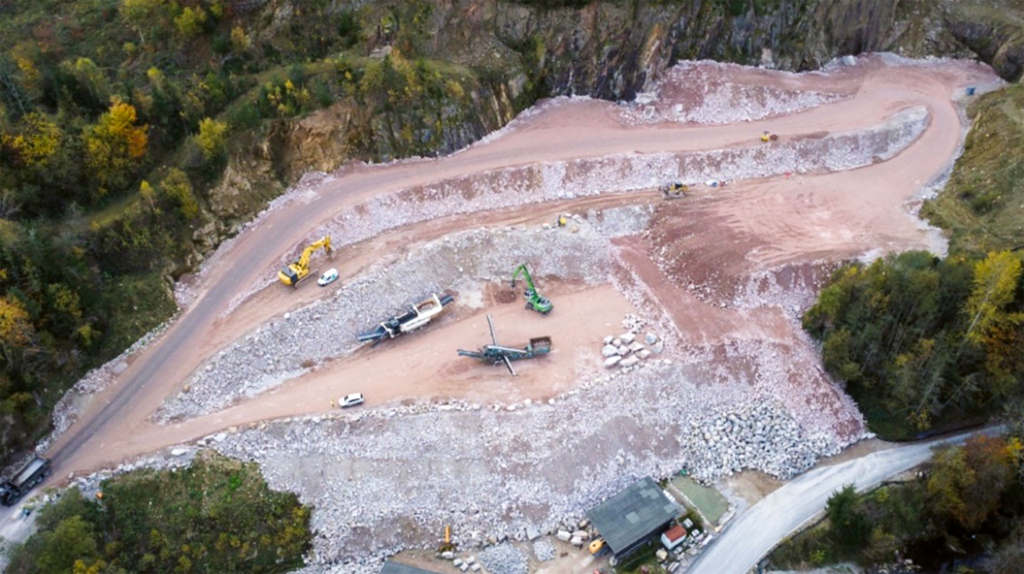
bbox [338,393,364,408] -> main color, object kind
white car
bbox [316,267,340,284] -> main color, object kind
white vehicle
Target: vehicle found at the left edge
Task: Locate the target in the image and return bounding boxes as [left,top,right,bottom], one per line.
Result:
[0,448,52,505]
